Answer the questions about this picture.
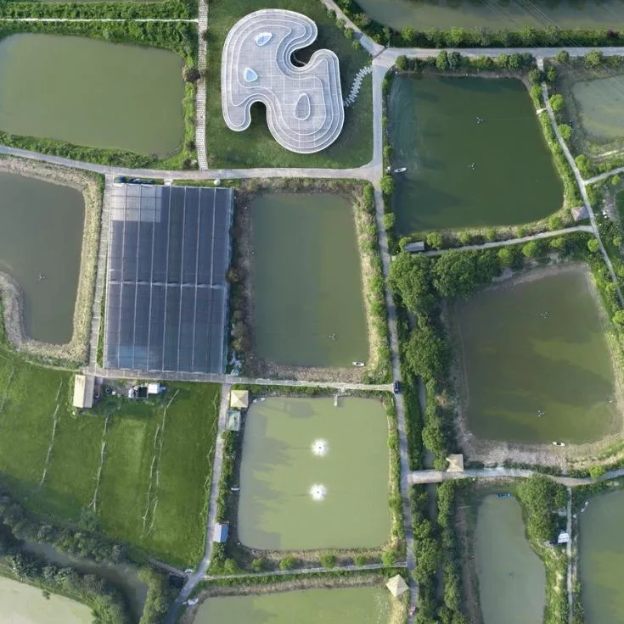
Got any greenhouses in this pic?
Yes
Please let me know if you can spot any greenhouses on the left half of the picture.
Yes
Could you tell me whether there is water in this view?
Yes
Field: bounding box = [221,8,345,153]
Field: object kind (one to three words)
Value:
building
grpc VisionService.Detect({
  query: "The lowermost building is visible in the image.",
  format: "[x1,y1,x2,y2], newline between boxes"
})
[385,571,410,596]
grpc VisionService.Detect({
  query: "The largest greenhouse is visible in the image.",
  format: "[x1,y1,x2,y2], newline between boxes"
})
[104,183,236,375]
